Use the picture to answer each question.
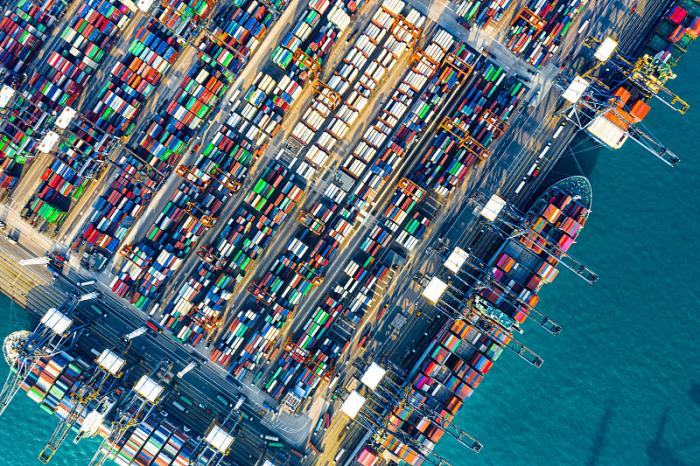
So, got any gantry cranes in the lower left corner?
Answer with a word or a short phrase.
Yes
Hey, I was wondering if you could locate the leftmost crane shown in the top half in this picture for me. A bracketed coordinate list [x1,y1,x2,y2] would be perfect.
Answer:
[0,79,58,135]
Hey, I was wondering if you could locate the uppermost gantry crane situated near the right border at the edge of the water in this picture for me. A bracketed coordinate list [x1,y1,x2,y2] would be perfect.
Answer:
[567,26,693,111]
